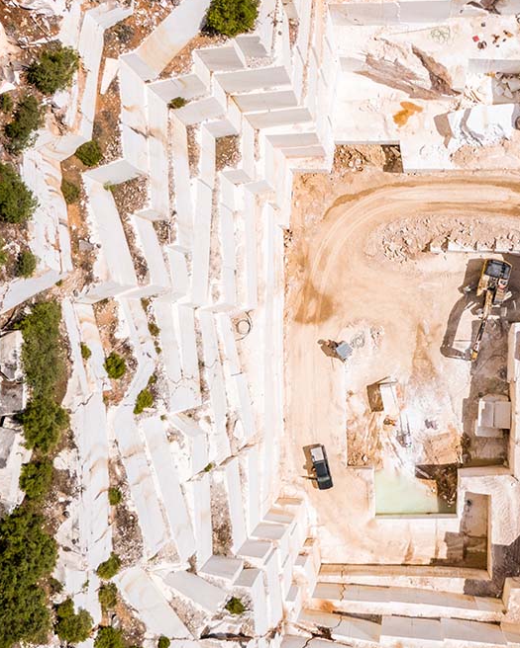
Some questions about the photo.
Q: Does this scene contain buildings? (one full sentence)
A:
No, the scene contains no building.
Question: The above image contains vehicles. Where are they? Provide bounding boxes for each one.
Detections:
[474,255,514,354]
[306,445,332,493]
